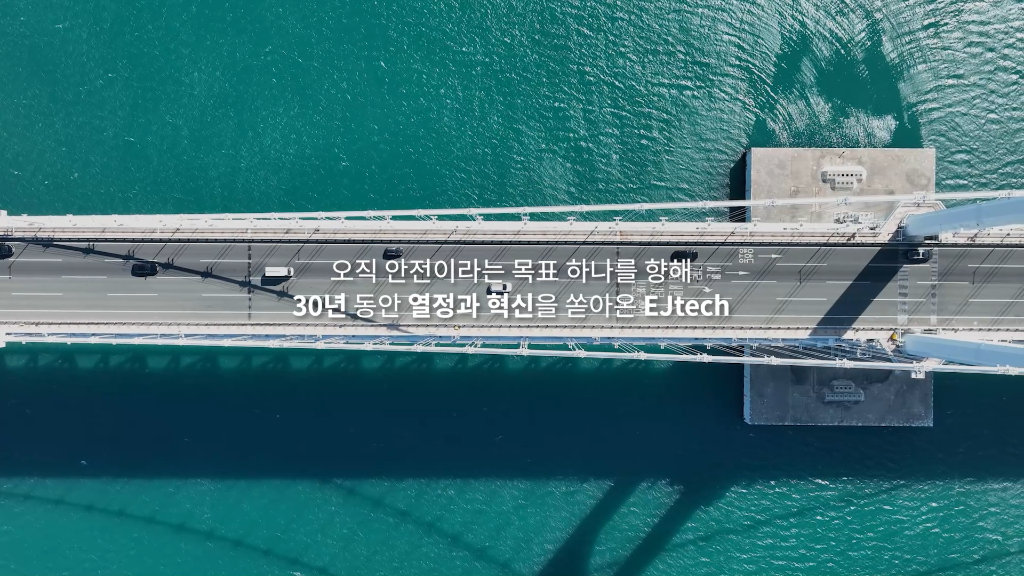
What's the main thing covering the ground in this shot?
water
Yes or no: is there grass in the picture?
No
